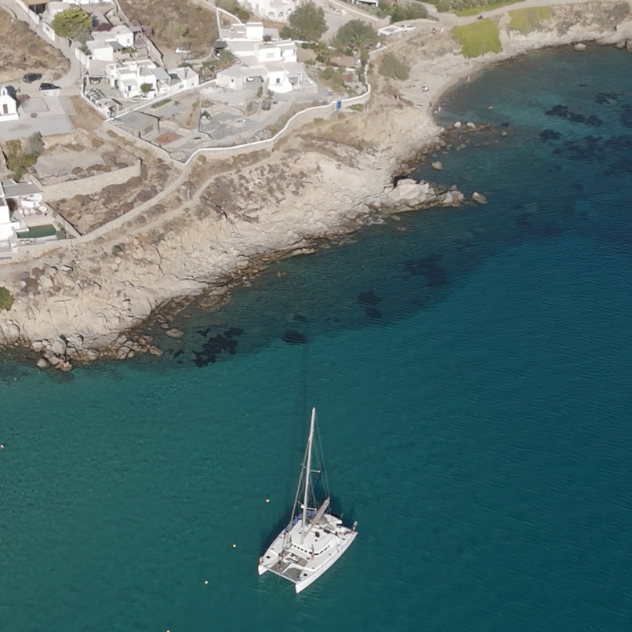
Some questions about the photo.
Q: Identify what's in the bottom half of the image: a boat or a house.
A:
boat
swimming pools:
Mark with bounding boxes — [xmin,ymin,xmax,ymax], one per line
[15,226,57,239]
